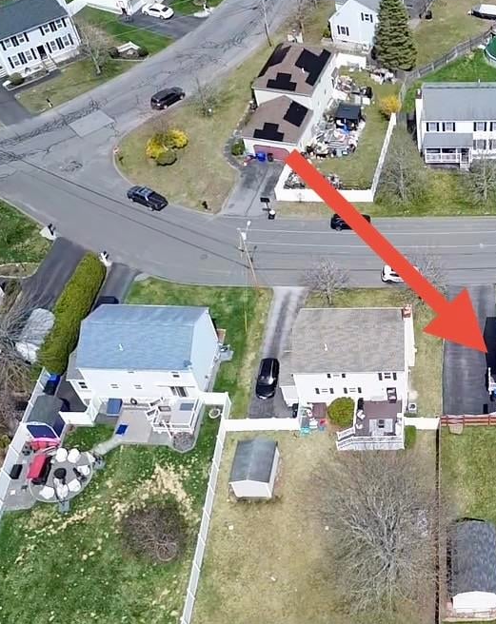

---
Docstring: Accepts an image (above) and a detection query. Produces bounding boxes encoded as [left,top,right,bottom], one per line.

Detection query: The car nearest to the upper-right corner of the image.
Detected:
[327,209,373,233]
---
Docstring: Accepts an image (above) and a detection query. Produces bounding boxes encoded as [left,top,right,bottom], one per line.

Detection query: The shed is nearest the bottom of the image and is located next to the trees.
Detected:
[452,528,496,616]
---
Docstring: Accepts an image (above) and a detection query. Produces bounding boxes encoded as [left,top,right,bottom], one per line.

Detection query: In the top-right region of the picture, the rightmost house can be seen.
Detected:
[416,76,496,174]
